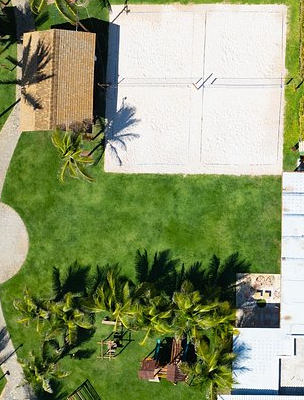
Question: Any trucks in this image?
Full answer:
No, no truck is visible in the view.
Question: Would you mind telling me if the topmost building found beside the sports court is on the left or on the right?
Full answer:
You can find the topmost building found beside the sports court on the left side of the picture.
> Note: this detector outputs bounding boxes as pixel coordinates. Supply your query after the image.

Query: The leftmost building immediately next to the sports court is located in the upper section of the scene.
[20,29,101,135]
